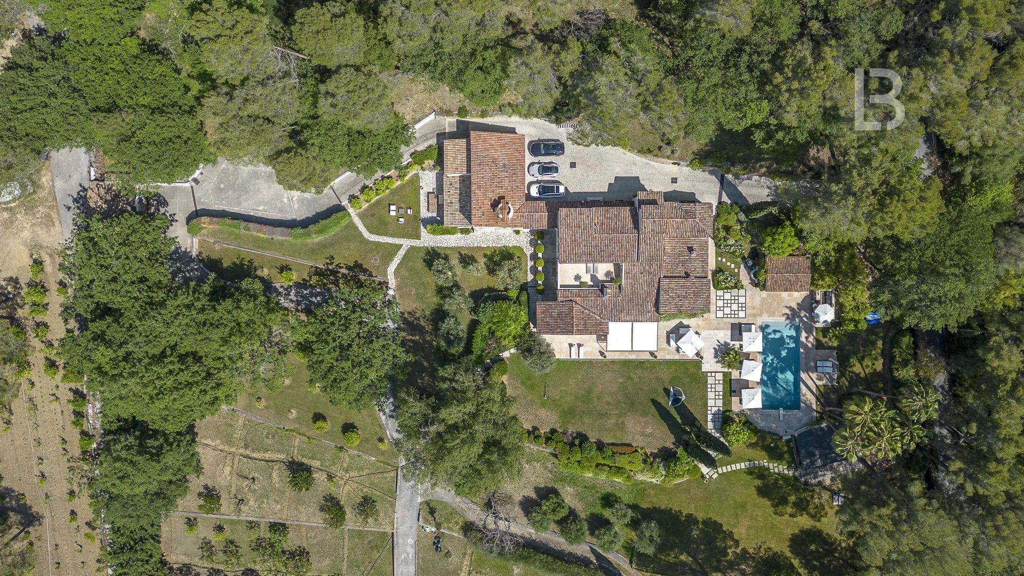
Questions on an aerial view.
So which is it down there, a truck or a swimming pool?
swimming pool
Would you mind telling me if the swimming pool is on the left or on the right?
right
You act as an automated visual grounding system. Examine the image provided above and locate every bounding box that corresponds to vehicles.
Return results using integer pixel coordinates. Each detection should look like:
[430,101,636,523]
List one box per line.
[530,181,566,199]
[530,139,566,157]
[528,161,561,178]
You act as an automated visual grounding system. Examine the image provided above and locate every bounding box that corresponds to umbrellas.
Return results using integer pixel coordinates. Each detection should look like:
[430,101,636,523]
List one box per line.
[741,388,762,409]
[676,329,705,358]
[813,303,834,323]
[742,332,762,352]
[741,360,763,381]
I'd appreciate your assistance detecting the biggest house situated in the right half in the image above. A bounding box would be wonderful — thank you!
[536,191,714,335]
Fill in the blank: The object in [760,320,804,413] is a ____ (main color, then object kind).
blue swimming pool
